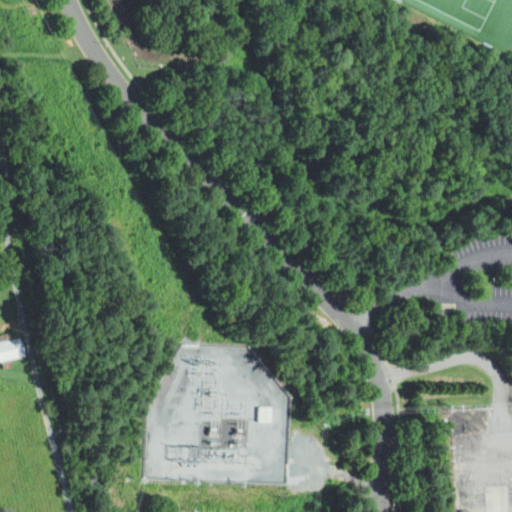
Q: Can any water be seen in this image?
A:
No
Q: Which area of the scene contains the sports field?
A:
top right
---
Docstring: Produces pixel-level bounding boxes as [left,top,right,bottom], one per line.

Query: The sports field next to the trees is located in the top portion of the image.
[410,0,512,58]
